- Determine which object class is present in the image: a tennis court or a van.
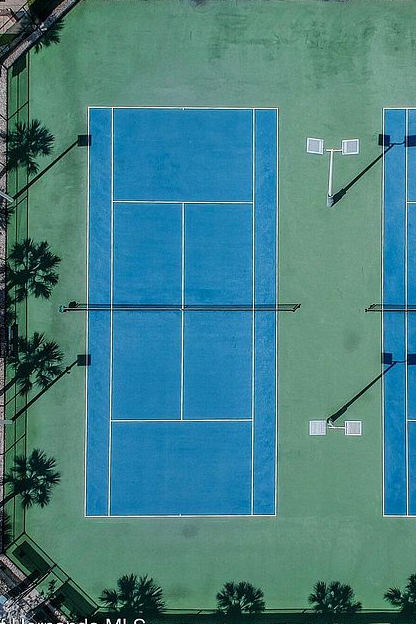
tennis court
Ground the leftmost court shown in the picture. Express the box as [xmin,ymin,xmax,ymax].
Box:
[85,107,276,516]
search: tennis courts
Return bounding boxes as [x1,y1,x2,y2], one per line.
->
[85,107,276,516]
[384,108,416,515]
